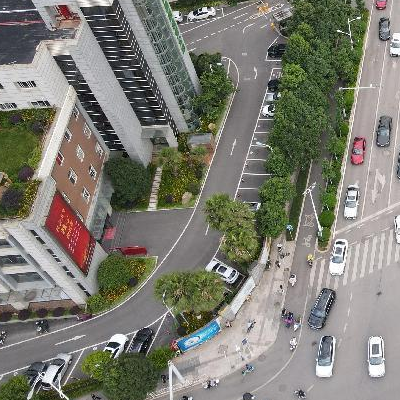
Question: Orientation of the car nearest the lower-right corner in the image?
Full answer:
The car nearest the lower-right corner is laid out up and down.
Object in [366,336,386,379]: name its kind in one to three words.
car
